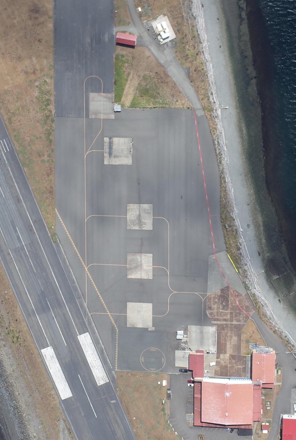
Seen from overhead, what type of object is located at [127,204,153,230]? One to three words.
helipad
